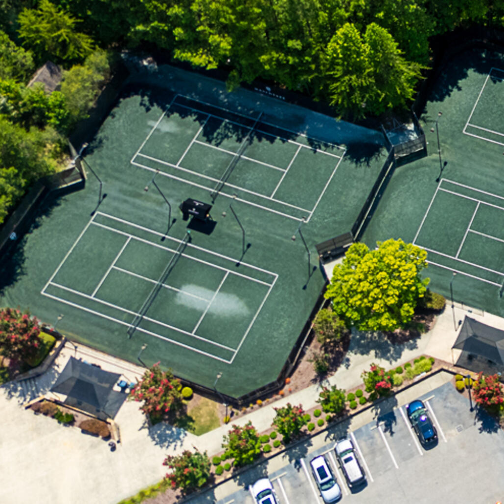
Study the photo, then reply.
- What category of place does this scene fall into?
sports ground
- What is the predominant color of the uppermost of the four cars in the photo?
blue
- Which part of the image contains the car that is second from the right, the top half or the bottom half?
bottom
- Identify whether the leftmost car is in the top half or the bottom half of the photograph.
bottom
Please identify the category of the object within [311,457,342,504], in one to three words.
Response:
car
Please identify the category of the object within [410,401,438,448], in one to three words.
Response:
car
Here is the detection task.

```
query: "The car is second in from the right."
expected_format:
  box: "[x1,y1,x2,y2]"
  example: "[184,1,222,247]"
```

[338,438,368,487]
